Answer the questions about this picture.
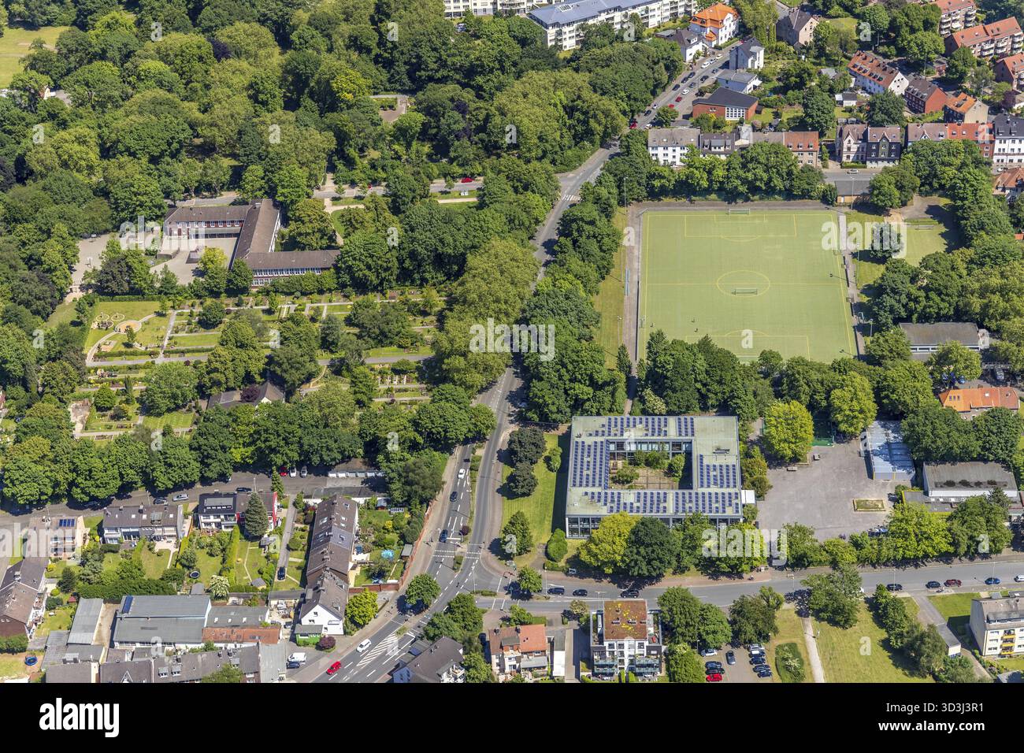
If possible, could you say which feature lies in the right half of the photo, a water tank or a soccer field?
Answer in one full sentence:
It is a soccer field that can be seen in the right half of the photo.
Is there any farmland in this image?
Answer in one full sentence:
No, the scene doesn't show any farmland.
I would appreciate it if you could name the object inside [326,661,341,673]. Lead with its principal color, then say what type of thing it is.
red vehicle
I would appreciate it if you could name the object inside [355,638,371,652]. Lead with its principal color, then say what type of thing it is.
white vehicle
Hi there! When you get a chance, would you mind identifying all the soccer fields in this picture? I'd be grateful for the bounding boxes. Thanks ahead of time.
[633,209,864,370]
